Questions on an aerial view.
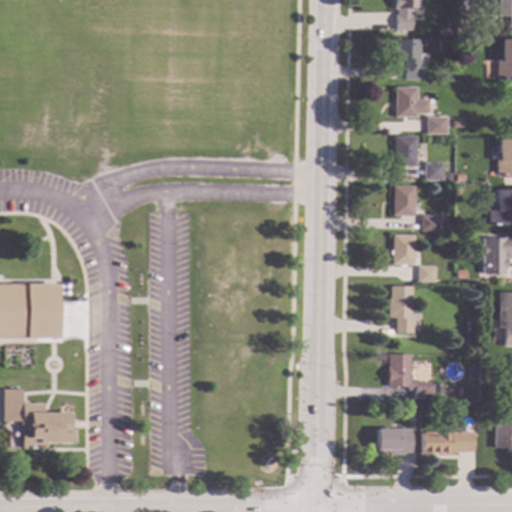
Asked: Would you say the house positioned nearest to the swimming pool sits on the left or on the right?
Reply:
right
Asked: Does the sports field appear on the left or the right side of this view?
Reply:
left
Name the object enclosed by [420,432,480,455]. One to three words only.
house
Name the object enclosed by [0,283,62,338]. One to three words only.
building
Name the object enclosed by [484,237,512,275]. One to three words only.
house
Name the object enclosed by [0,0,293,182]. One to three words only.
sports field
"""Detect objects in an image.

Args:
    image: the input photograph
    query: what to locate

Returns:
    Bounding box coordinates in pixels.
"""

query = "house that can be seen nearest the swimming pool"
[389,354,437,395]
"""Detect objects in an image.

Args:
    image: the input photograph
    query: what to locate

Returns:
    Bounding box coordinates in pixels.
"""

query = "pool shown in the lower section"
[446,364,464,380]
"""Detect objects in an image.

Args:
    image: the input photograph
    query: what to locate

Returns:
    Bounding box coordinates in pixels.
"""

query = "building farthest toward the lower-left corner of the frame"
[2,388,78,450]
